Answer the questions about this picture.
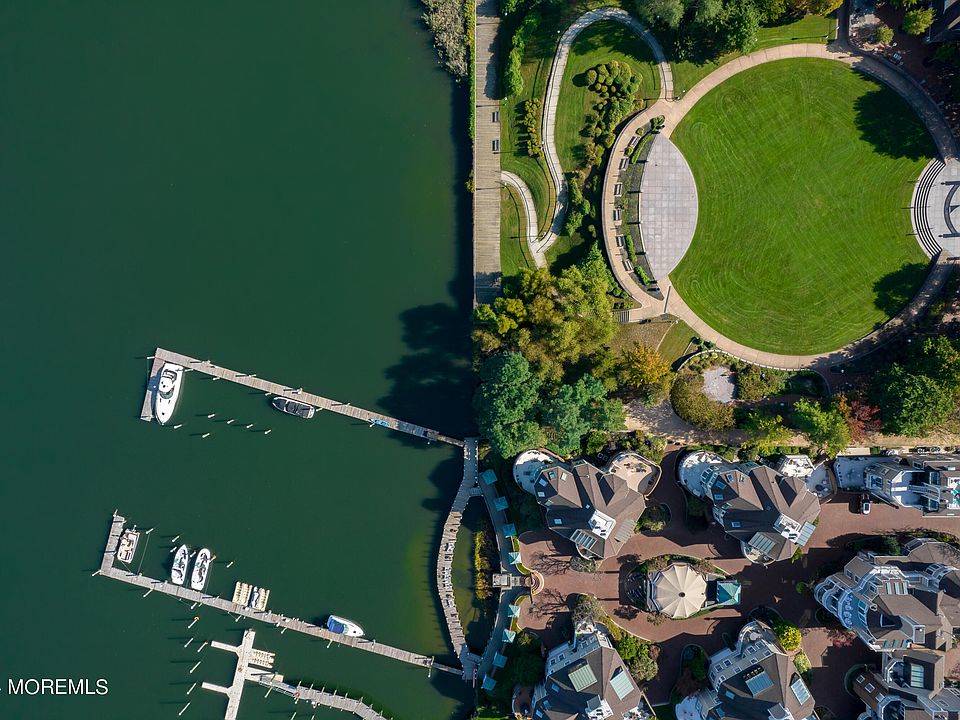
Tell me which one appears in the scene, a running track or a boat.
boat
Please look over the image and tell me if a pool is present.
No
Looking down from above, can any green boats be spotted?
No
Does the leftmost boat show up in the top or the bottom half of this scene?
bottom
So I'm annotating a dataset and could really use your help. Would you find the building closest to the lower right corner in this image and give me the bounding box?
[844,640,960,720]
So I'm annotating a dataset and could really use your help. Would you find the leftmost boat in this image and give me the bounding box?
[117,527,141,562]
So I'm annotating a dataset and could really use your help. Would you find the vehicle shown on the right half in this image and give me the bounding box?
[860,492,872,512]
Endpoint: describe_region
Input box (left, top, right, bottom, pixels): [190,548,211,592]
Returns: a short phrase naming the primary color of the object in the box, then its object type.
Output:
white boat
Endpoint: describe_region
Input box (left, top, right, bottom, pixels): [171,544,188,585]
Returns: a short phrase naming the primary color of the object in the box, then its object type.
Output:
white boat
